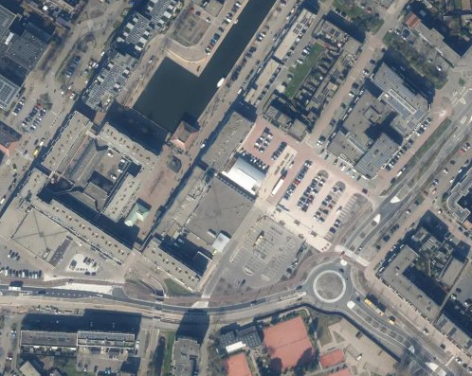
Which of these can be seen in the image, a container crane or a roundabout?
roundabout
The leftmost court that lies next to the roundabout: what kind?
tennis court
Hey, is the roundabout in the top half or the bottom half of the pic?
bottom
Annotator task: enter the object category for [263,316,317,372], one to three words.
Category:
tennis court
